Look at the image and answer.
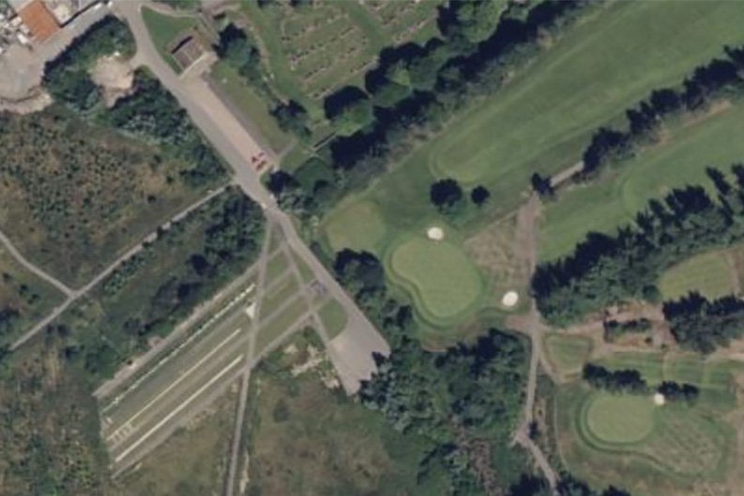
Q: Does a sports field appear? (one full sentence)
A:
Yes, a sports field appears in the view.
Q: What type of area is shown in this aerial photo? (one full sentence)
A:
The picture captures a golf course.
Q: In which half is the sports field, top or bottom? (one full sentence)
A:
It is in the bottom half that the sports field appears.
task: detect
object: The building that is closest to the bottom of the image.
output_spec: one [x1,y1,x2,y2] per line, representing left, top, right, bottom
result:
[168,35,203,69]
